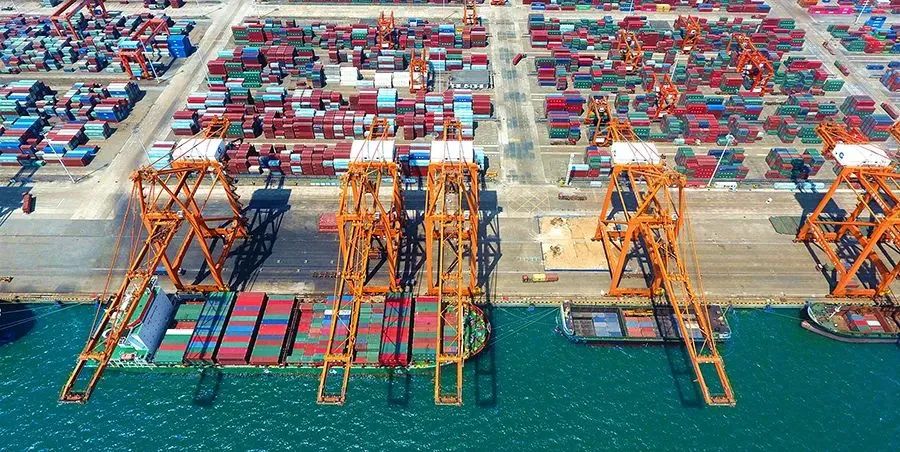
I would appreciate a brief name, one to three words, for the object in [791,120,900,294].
container crane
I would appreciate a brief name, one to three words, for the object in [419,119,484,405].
container crane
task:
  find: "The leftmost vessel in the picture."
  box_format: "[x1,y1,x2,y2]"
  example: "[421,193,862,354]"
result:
[0,305,28,348]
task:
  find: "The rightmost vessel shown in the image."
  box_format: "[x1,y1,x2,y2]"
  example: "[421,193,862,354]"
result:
[801,301,900,346]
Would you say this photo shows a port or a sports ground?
port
